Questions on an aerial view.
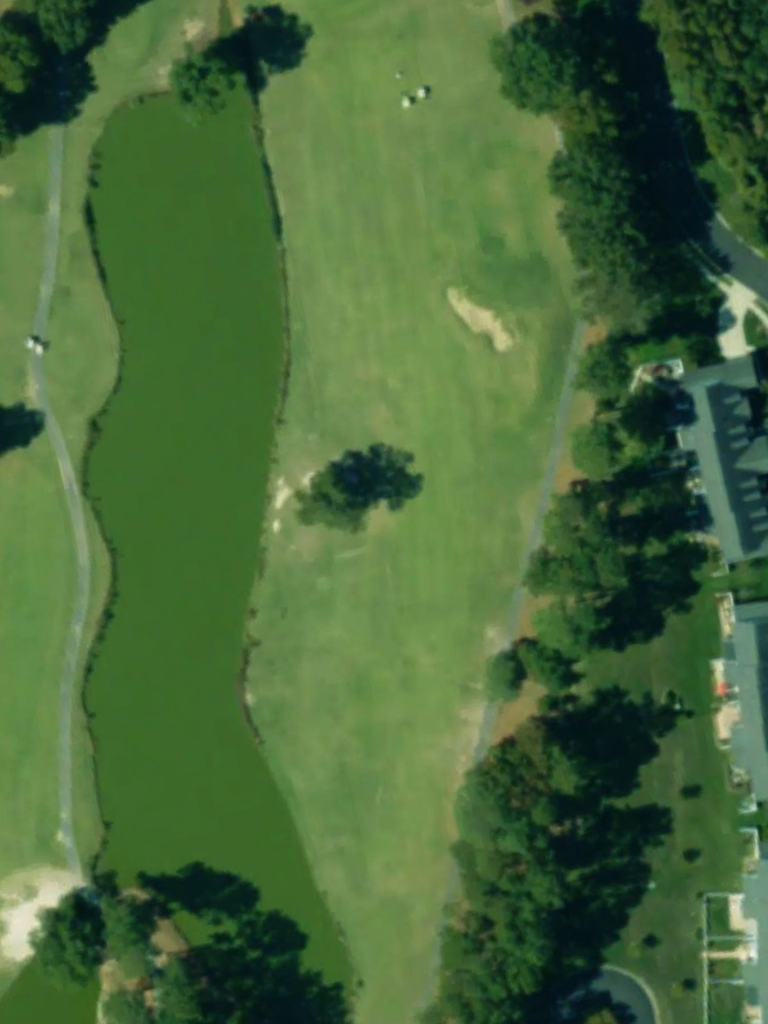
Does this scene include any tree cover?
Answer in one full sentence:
Yes, tree cover can be seen from above here.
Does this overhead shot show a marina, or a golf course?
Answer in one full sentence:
This looks like a golf course.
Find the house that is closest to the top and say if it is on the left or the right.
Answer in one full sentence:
The house that is closest to the top sits on the right side.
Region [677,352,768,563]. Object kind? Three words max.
house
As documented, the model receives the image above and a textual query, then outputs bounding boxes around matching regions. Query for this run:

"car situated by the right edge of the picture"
[719,306,731,330]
